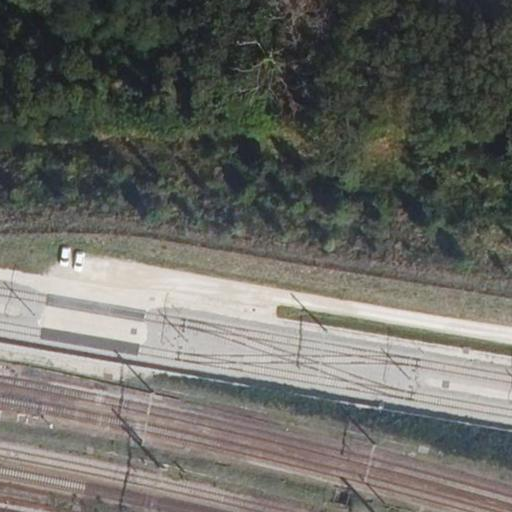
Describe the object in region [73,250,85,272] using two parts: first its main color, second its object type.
white vehicle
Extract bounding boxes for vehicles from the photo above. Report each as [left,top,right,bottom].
[73,250,85,272]
[60,246,71,268]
